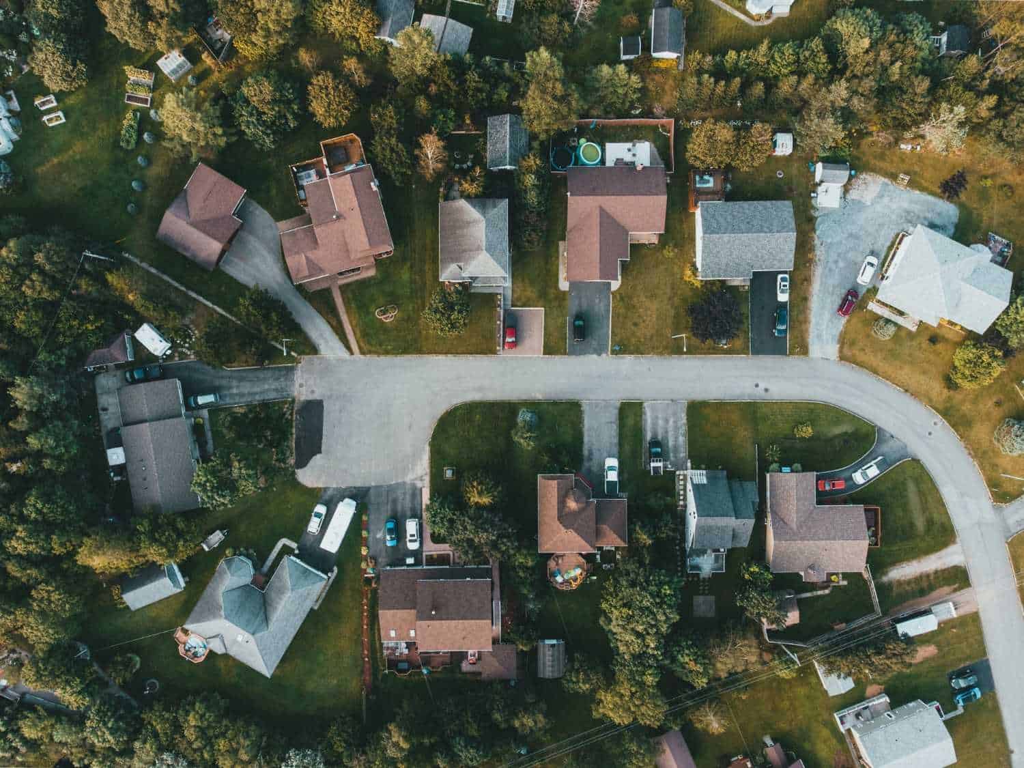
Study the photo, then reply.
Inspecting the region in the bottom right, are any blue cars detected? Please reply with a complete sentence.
Yes, a blue car can be seen in the bottom right.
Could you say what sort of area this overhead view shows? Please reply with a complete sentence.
What you see here is a residential area.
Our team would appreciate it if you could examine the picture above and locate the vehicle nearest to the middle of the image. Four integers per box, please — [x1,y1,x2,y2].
[504,326,518,350]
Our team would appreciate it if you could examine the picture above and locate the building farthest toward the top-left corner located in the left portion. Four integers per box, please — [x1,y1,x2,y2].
[157,162,251,270]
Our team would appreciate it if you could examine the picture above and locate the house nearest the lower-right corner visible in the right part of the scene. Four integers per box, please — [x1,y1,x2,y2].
[832,692,957,768]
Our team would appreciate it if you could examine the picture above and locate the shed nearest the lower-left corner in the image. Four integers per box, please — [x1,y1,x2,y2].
[120,568,188,611]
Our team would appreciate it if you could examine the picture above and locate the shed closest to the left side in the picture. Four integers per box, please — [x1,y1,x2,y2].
[83,332,135,371]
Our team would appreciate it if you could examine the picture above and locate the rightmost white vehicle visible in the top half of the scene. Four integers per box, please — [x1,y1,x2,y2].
[855,254,879,287]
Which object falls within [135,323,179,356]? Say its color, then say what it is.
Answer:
white camper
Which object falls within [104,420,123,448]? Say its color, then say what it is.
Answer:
black car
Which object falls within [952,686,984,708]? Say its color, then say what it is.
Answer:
blue car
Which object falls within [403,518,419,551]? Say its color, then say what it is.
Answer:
white car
